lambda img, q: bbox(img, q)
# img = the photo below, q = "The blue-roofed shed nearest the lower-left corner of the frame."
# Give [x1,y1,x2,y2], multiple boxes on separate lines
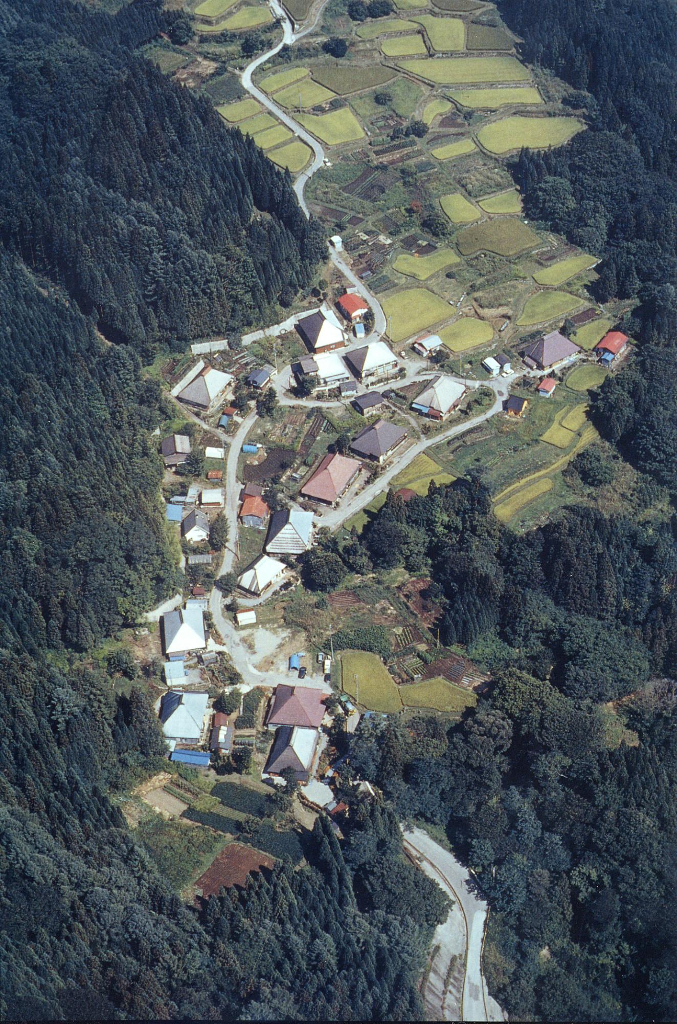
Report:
[171,750,212,771]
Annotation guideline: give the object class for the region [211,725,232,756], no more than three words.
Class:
shed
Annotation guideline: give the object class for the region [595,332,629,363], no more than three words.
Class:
barn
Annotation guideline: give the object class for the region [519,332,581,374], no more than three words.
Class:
house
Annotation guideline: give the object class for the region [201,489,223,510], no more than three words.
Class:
building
